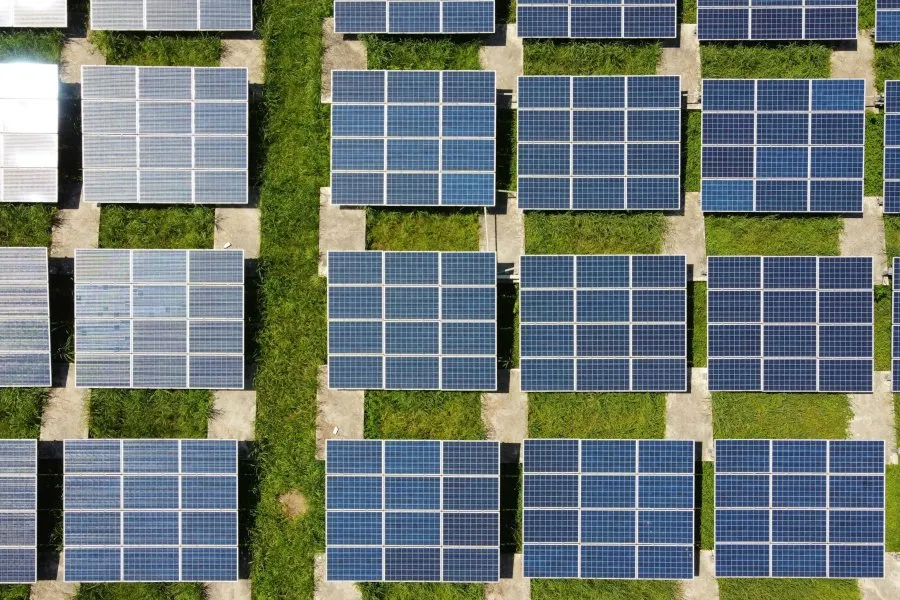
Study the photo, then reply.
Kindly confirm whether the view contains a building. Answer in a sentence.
No, the scene contains no building.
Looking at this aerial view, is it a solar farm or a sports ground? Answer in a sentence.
The picture captures a solar farm.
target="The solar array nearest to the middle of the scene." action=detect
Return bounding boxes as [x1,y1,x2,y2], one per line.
[328,252,497,389]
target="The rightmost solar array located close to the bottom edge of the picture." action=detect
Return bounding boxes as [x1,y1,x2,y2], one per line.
[710,439,884,578]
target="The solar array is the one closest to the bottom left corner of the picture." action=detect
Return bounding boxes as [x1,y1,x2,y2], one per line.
[0,439,49,582]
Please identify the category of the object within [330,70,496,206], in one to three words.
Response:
solar array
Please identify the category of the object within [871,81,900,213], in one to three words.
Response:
solar array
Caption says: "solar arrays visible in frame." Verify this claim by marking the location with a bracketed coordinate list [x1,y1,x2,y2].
[334,0,495,33]
[326,440,500,582]
[520,256,687,391]
[701,257,873,392]
[75,249,248,388]
[330,70,496,206]
[867,0,900,42]
[523,439,694,578]
[63,439,243,582]
[82,66,251,204]
[871,81,900,213]
[694,0,857,40]
[516,0,676,39]
[91,0,253,31]
[710,439,884,578]
[328,252,497,389]
[0,439,49,582]
[0,0,73,27]
[518,76,680,209]
[0,248,60,387]
[880,257,900,392]
[0,64,69,202]
[697,79,865,212]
